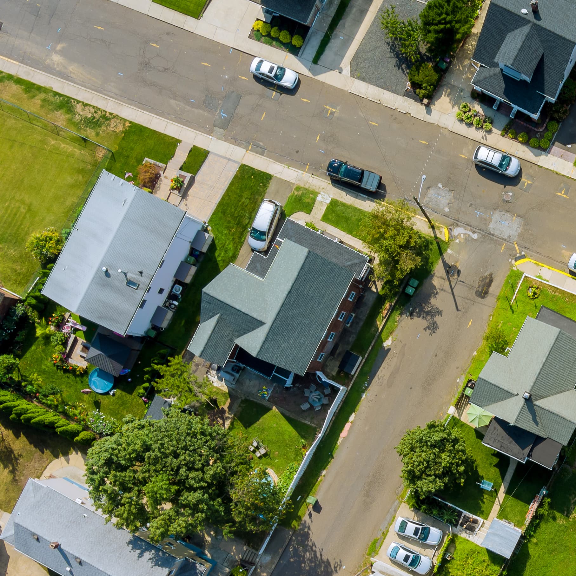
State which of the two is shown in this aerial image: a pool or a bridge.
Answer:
pool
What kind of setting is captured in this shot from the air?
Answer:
residential area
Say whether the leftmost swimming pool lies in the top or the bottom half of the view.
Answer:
bottom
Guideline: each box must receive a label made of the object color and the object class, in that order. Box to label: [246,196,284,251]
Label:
white car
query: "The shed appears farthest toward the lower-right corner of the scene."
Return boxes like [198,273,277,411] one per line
[481,516,521,558]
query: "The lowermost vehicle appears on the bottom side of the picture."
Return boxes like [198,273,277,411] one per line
[384,540,434,572]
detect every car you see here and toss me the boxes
[392,515,444,546]
[248,57,301,89]
[246,196,284,251]
[471,145,521,179]
[566,253,576,275]
[384,540,434,572]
